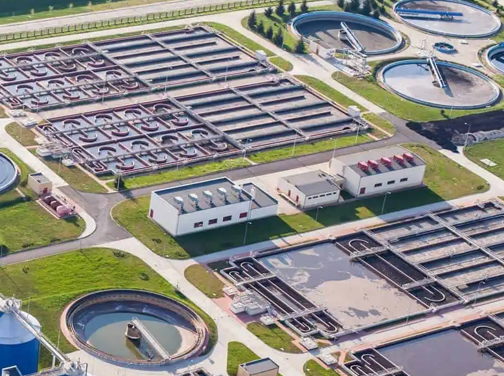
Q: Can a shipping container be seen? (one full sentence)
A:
No, there appears to be no shipping container in this shot.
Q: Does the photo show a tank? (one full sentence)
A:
Yes, the frame does contain a tank.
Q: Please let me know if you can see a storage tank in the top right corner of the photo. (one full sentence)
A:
Yes, looking in the top right corner of the photo, one can make out a storage tank.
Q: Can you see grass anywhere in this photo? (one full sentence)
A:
Yes, some grass is visible.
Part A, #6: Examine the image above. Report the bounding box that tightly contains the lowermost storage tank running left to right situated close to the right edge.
[380,55,502,111]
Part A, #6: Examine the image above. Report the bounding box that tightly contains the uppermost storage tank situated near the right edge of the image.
[392,0,502,39]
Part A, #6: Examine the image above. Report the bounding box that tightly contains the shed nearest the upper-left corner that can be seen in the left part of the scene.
[28,172,52,195]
